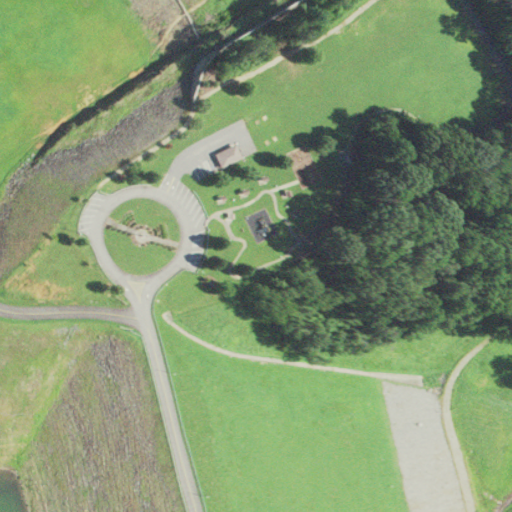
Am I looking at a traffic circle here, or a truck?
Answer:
traffic circle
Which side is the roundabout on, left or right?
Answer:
left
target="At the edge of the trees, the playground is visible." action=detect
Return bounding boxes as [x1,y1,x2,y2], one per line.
[246,209,276,243]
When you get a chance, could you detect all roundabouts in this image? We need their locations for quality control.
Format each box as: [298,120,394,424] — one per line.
[78,119,256,316]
